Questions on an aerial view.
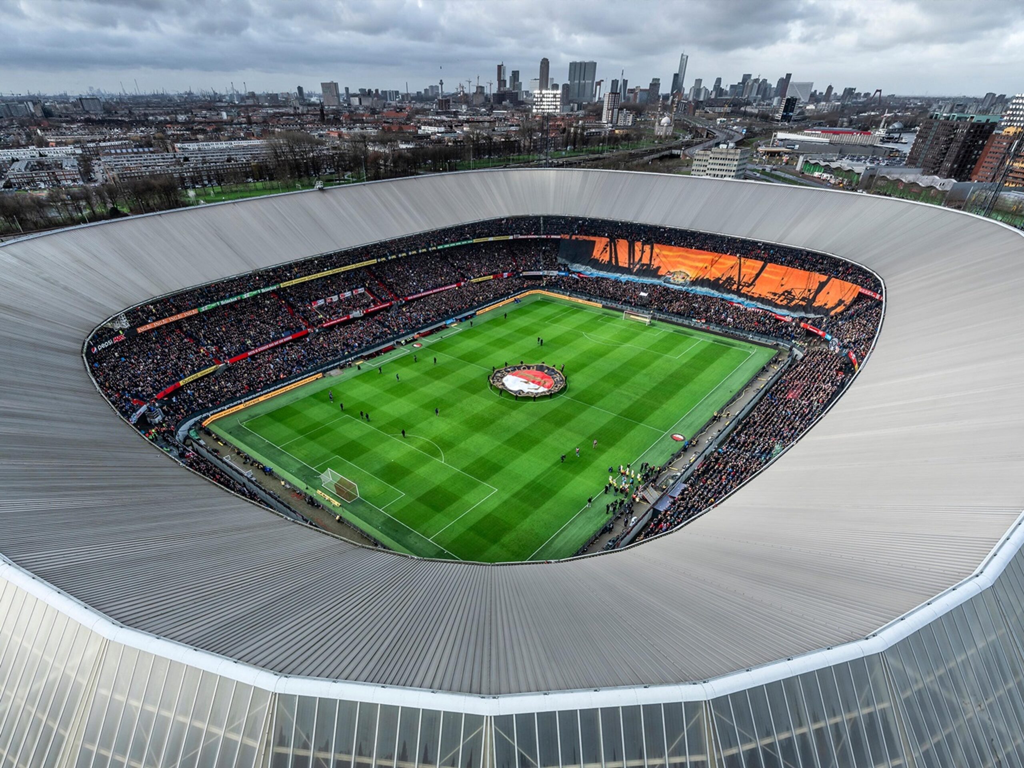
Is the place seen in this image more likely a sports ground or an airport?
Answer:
sports ground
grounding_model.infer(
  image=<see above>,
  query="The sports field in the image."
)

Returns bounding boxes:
[241,299,752,558]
